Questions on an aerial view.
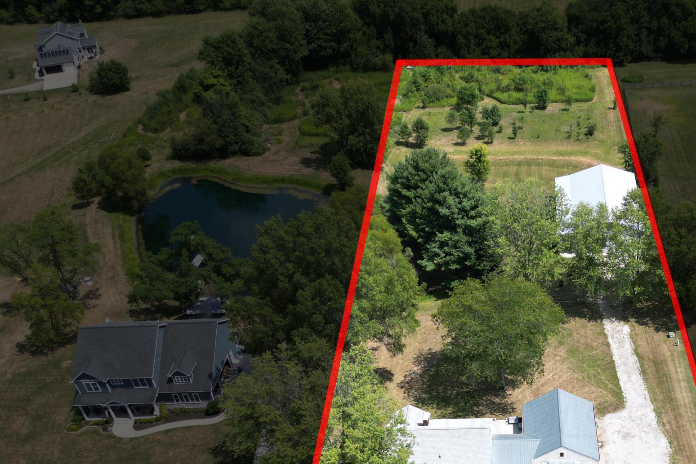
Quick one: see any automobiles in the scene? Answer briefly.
No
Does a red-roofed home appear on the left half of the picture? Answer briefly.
No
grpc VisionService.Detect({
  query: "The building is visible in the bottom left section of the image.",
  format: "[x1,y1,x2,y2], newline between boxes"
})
[64,314,247,426]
